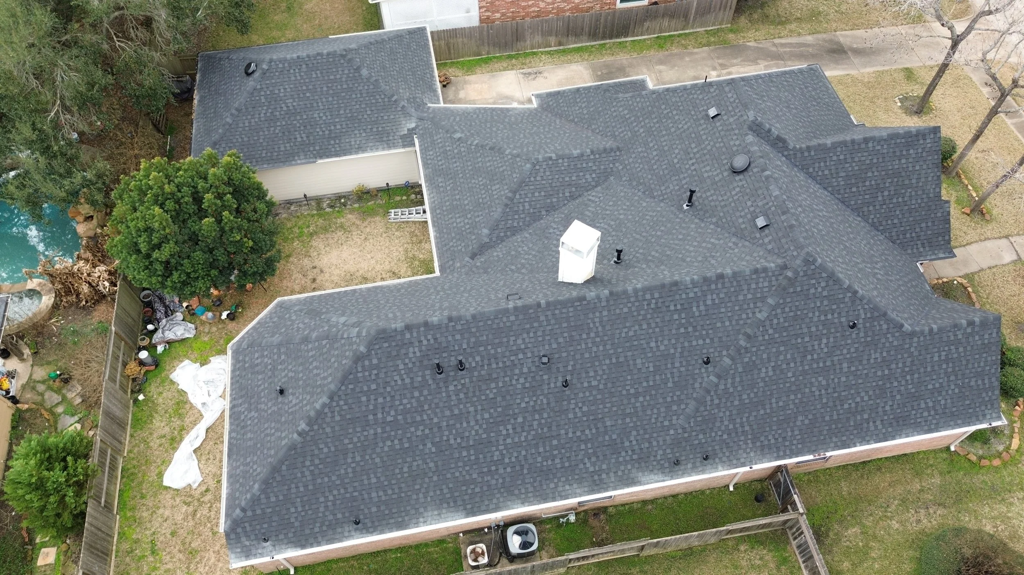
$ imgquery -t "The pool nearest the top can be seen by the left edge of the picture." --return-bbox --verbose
[0,165,80,280]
